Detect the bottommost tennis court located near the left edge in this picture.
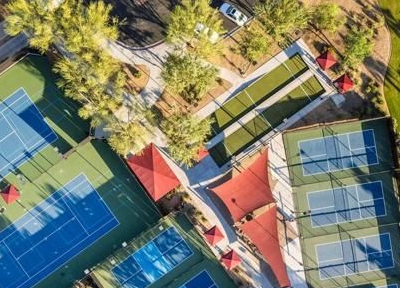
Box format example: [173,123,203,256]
[0,140,155,288]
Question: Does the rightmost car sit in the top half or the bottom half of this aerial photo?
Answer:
top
